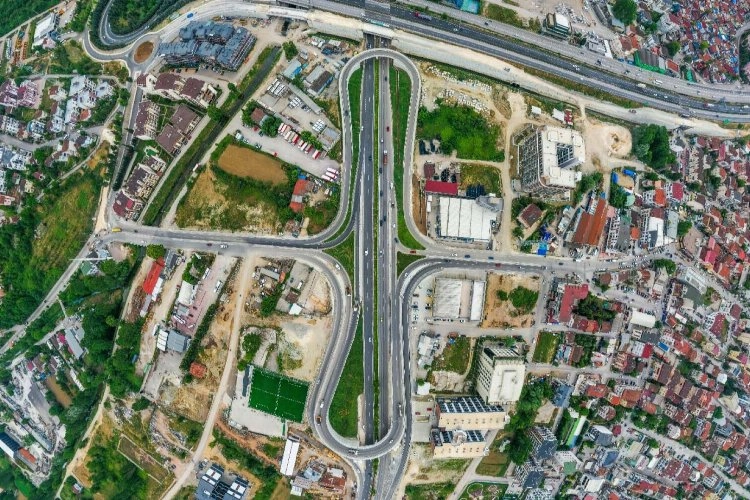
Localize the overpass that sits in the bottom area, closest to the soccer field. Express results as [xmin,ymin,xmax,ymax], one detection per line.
[316,325,406,458]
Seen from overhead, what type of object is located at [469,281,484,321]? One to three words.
shed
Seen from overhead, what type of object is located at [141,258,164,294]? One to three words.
shed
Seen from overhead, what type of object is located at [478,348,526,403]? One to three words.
building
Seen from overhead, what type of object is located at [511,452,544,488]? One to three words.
building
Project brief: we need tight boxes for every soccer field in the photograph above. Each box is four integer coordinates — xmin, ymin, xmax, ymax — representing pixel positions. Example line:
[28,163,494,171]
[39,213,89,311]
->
[248,366,308,423]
